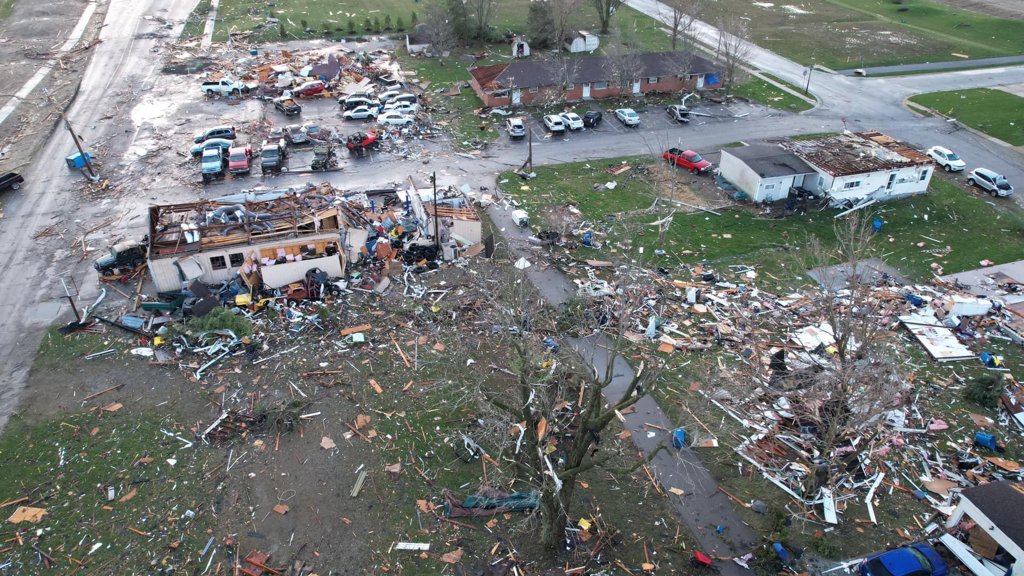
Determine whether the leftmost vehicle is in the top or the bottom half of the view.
top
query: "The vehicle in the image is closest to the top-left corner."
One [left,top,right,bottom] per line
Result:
[0,171,30,191]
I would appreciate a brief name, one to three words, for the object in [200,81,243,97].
vehicle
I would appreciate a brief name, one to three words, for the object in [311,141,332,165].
car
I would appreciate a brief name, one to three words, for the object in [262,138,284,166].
truck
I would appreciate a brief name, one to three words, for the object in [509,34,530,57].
shed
